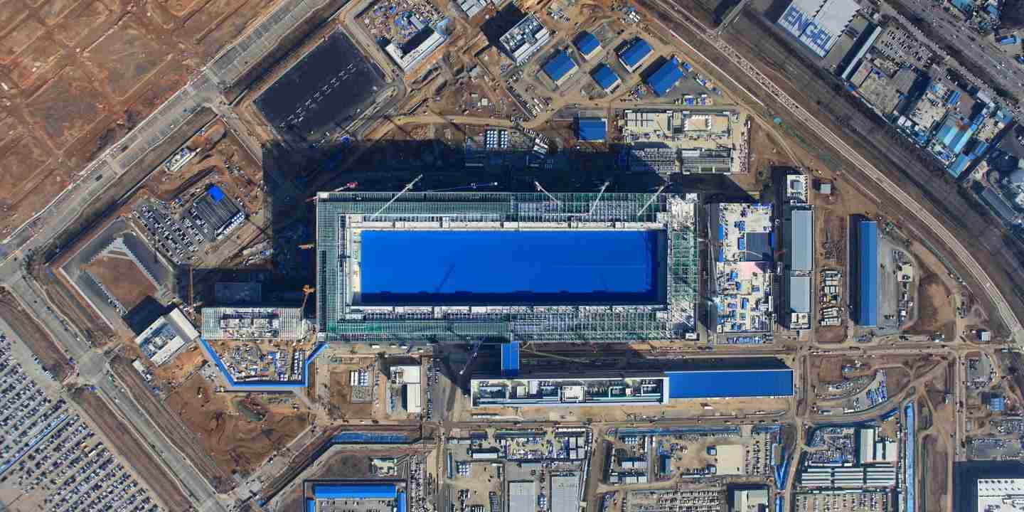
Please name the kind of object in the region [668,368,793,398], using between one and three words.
building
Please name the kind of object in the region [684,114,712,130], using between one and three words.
building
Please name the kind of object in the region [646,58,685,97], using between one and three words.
shed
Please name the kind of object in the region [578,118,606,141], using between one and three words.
shed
